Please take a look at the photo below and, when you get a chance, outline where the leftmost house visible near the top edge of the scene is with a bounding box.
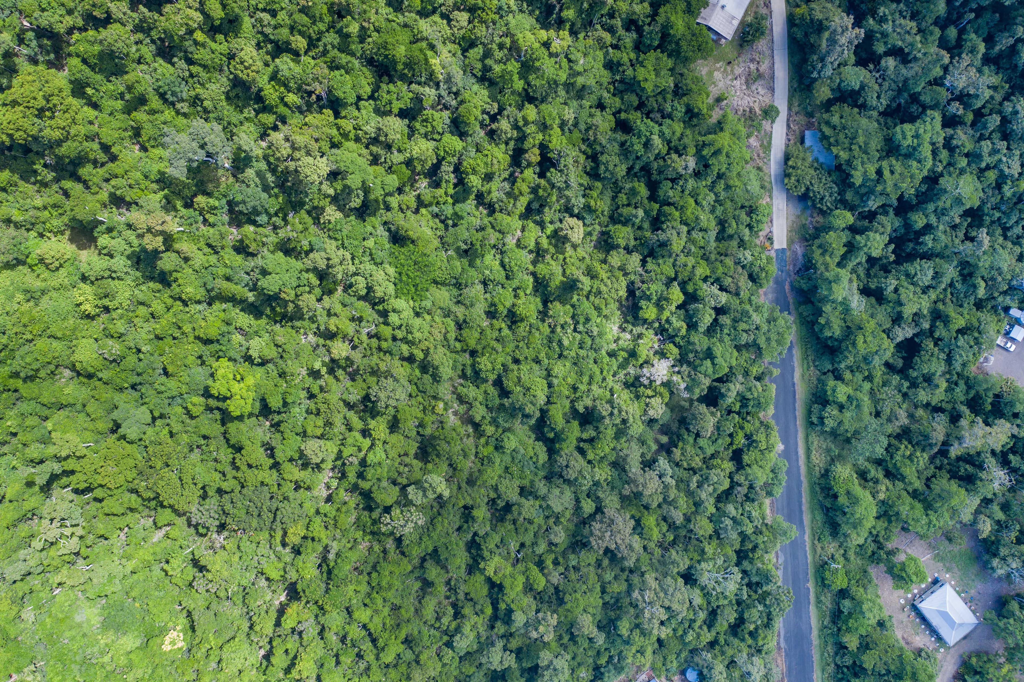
[700,0,751,45]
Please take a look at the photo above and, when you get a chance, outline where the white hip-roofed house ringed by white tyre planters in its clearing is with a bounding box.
[909,579,979,647]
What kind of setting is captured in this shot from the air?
forest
